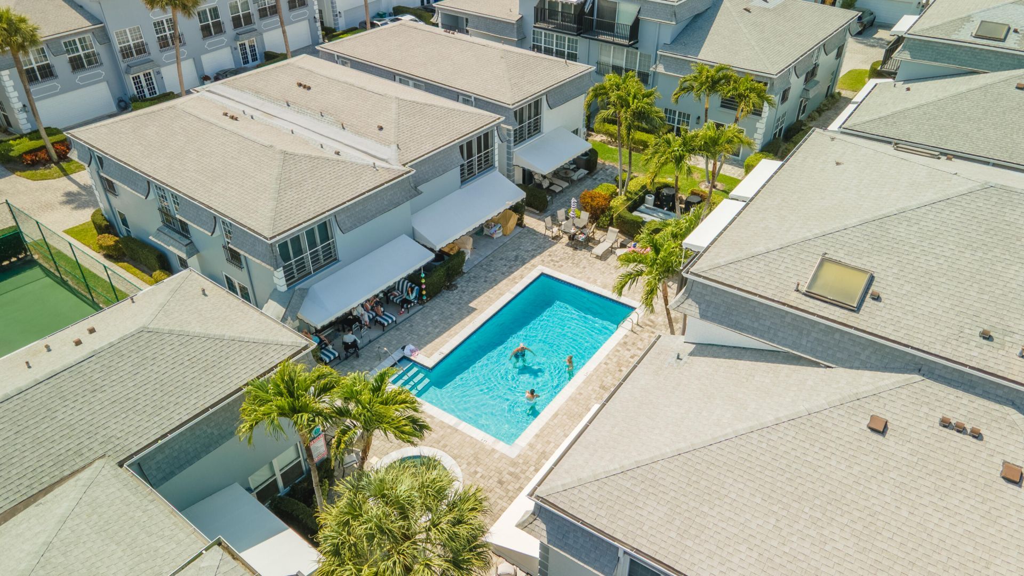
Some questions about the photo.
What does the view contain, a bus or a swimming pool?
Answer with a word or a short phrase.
swimming pool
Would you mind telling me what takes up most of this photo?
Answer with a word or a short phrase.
buildings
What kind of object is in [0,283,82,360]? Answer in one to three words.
tennis court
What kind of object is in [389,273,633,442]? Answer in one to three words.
swimming pool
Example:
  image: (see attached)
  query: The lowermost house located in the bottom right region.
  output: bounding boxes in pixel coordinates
[493,332,1024,576]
